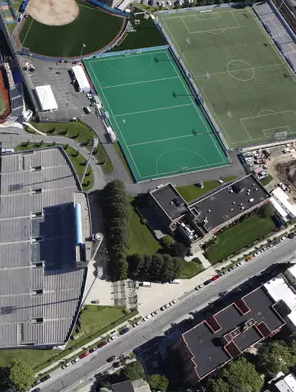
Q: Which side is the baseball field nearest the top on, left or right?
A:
left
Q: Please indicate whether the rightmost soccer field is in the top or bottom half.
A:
top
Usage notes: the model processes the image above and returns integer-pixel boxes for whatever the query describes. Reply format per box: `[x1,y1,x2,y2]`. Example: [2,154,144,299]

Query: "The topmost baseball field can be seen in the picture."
[20,0,125,57]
